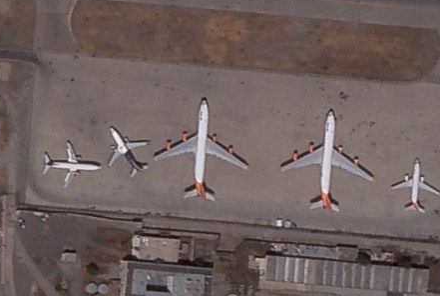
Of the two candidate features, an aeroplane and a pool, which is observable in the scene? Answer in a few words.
aeroplane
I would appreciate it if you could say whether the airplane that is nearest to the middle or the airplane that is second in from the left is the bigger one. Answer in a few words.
the airplane that is nearest to the middle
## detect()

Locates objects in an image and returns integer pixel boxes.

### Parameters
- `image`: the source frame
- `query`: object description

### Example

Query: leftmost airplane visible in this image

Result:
[46,142,102,189]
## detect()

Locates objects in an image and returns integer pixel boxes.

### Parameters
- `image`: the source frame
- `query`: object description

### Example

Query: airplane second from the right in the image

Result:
[282,109,377,210]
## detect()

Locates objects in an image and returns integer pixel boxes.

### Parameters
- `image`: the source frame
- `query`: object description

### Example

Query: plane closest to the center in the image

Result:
[154,99,250,201]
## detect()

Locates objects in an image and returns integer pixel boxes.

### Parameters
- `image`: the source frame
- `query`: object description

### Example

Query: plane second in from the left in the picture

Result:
[112,127,151,178]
